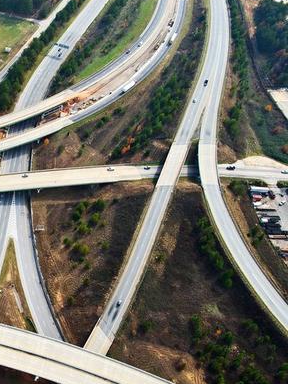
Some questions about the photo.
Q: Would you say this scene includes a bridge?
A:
Yes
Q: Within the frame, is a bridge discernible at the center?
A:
Yes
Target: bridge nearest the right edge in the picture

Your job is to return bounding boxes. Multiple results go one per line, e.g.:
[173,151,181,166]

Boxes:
[197,142,220,184]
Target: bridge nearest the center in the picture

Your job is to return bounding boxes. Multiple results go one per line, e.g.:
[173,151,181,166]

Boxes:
[157,141,190,185]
